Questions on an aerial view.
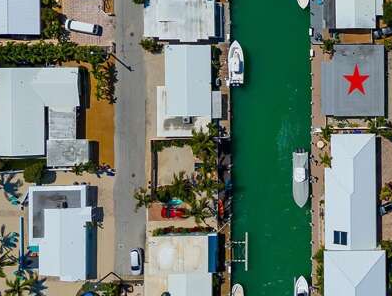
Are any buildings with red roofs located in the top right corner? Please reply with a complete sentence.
No, I can find no building with a red roof in the top right corner.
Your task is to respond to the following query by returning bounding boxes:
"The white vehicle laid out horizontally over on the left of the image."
[66,19,104,37]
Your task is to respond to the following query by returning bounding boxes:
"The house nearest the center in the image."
[157,45,223,138]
